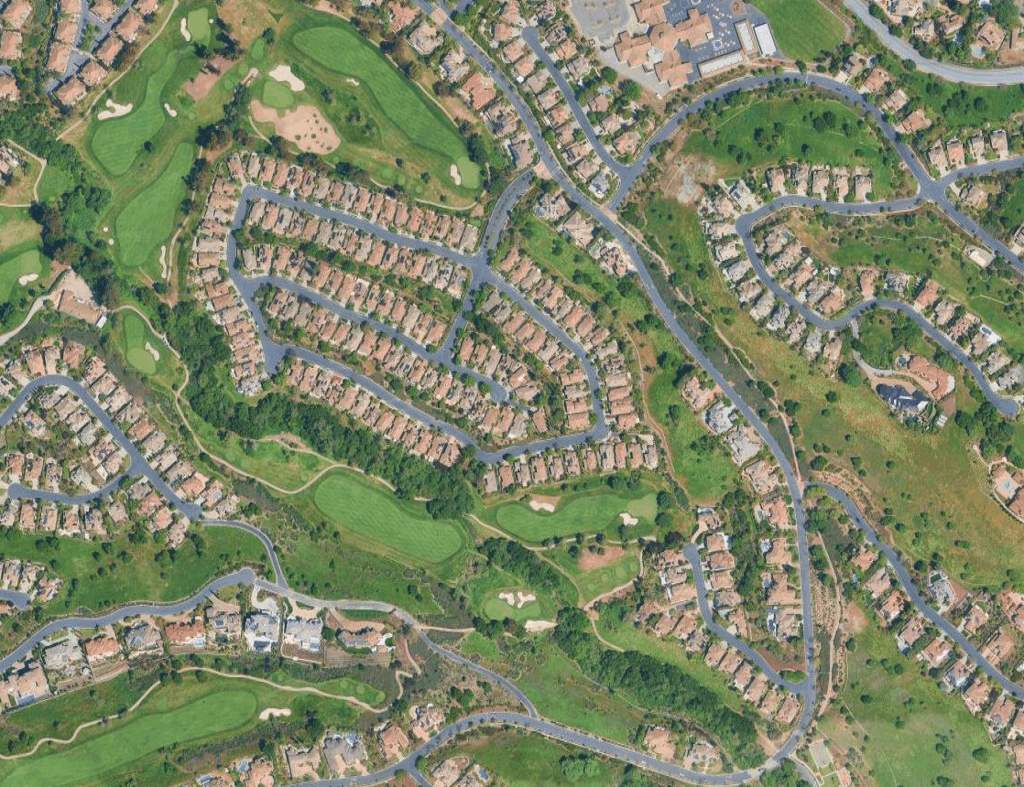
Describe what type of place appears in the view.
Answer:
residential area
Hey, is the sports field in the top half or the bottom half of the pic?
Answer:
top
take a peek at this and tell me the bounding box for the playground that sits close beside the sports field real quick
[660,0,789,87]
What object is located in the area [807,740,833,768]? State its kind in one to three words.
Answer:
sports court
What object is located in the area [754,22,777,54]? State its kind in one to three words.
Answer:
building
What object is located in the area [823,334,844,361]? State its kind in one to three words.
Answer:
house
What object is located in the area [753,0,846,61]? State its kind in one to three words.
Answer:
sports field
